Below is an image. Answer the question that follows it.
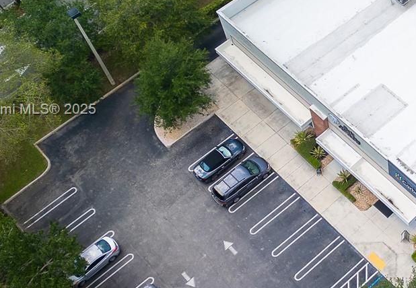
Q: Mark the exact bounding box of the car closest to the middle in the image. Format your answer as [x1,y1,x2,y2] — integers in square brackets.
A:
[190,139,243,182]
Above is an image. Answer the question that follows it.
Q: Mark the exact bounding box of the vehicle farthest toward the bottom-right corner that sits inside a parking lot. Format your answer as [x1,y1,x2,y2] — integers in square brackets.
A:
[211,160,271,209]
